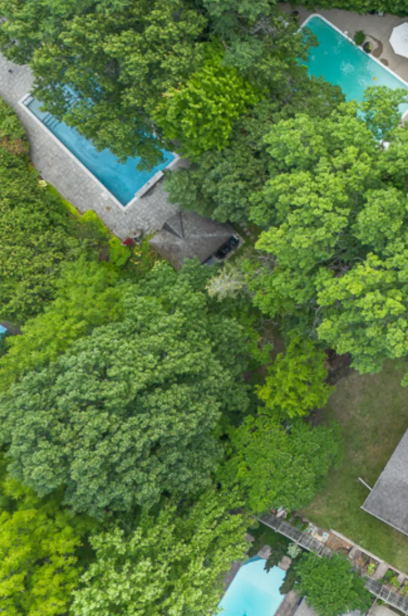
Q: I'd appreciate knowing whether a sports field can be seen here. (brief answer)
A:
No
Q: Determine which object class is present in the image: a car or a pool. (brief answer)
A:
pool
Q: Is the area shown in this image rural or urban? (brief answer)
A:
rural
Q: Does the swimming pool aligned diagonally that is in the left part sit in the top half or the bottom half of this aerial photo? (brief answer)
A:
top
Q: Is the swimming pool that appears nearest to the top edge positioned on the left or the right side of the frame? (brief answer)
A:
right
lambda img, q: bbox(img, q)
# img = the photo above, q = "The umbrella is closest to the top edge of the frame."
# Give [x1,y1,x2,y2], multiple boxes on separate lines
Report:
[387,19,408,62]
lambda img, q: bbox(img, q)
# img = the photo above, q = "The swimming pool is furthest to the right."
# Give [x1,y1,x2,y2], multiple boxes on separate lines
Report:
[273,9,408,110]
